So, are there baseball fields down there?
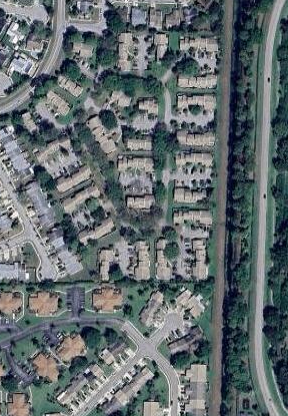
No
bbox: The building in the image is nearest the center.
[127,194,153,210]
